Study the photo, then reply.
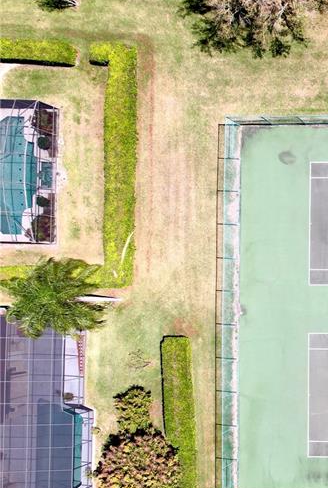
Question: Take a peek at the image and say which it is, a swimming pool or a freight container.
swimming pool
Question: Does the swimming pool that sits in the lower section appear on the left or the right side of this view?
left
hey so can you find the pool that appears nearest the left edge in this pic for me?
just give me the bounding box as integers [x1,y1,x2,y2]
[0,117,34,234]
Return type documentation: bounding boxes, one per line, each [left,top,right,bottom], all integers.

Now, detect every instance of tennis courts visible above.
[233,312,328,488]
[233,124,328,312]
